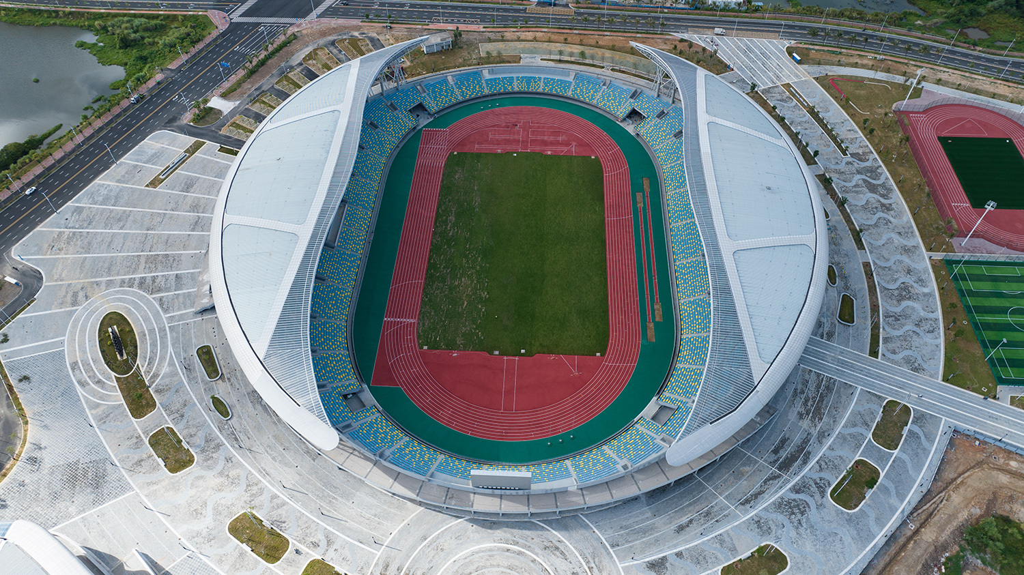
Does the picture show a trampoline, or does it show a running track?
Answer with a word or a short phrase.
running track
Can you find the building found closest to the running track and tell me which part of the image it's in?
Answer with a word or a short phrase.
top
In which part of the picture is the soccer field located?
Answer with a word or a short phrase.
right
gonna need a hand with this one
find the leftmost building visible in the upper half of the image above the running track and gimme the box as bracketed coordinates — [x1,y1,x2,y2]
[420,32,454,61]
